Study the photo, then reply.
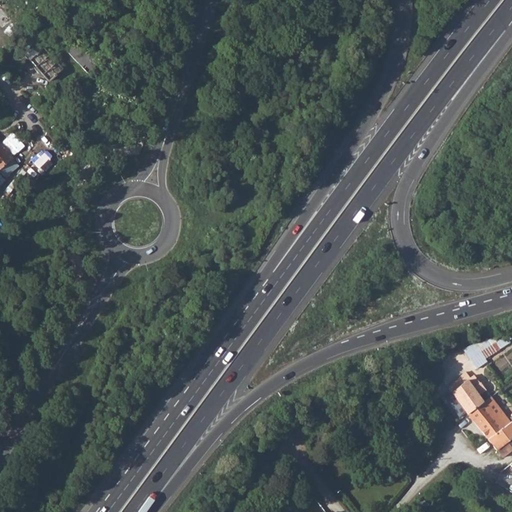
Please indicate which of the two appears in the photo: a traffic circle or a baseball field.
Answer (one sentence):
Of the two, only a traffic circle appears.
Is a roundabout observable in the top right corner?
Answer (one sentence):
No, no roundabout appears in the top right corner.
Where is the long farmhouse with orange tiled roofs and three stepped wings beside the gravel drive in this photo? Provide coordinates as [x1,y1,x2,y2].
[454,371,512,459]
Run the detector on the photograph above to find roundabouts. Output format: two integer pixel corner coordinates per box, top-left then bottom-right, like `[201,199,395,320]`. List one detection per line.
[94,140,181,276]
